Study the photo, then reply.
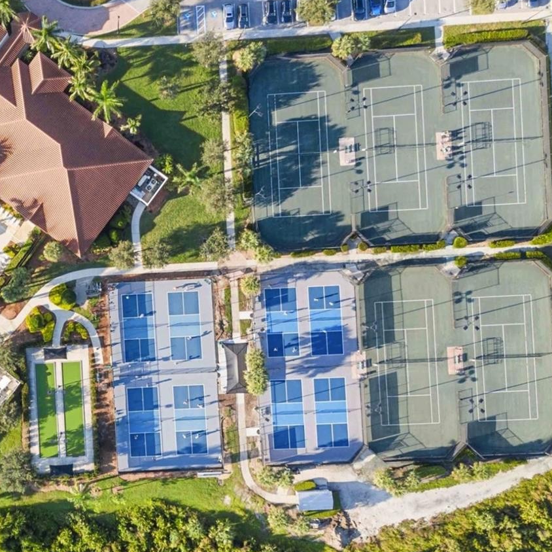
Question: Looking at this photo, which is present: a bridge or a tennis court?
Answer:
tennis court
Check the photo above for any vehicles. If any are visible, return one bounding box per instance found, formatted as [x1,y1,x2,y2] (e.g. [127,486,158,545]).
[383,0,396,12]
[280,0,291,26]
[224,4,234,30]
[524,0,536,8]
[496,0,507,13]
[353,0,365,20]
[237,4,249,30]
[370,0,381,16]
[264,0,276,26]
[293,0,305,25]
